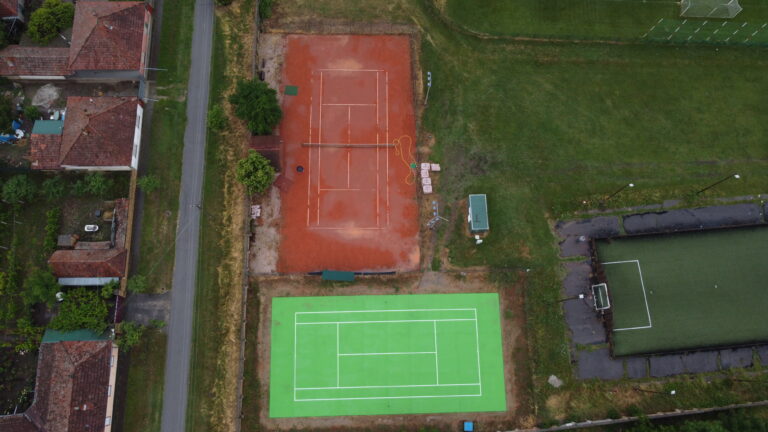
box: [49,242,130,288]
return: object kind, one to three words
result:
house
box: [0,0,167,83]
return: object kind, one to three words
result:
house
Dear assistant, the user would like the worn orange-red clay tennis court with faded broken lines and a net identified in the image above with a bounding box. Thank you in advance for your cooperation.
[277,33,418,274]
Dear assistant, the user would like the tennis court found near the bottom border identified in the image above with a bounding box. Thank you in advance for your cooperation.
[269,292,506,418]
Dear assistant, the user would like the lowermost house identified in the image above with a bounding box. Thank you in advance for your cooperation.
[0,328,118,432]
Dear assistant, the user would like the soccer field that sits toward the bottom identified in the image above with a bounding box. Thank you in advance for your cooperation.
[591,224,768,356]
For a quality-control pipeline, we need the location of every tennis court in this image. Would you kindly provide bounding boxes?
[277,33,418,274]
[269,292,506,418]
